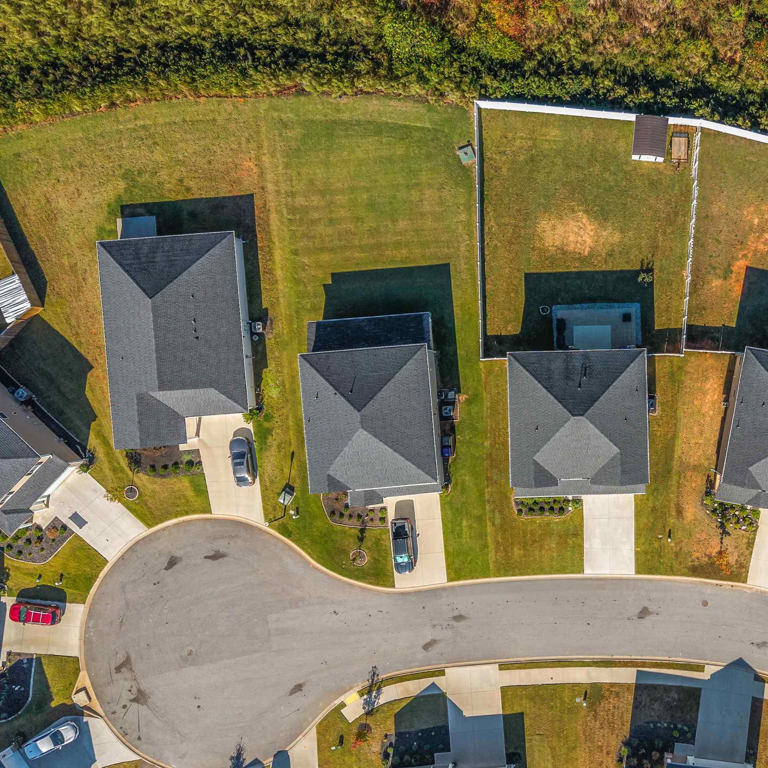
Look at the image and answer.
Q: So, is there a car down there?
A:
Yes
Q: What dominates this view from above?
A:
grass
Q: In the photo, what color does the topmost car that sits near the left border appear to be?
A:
red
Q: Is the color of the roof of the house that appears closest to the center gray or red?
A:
gray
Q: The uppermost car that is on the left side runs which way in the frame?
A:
up and down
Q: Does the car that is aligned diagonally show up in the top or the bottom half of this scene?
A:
bottom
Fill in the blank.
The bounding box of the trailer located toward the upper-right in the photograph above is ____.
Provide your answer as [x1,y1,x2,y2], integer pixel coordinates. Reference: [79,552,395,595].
[669,121,691,174]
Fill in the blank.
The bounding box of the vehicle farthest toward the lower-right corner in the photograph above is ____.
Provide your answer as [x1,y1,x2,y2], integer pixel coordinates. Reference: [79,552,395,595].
[392,515,418,574]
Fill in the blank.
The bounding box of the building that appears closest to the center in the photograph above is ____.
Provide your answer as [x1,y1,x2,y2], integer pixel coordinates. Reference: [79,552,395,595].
[298,312,443,507]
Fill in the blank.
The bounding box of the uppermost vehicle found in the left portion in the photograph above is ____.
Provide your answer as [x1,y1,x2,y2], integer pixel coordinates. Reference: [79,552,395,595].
[230,435,258,486]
